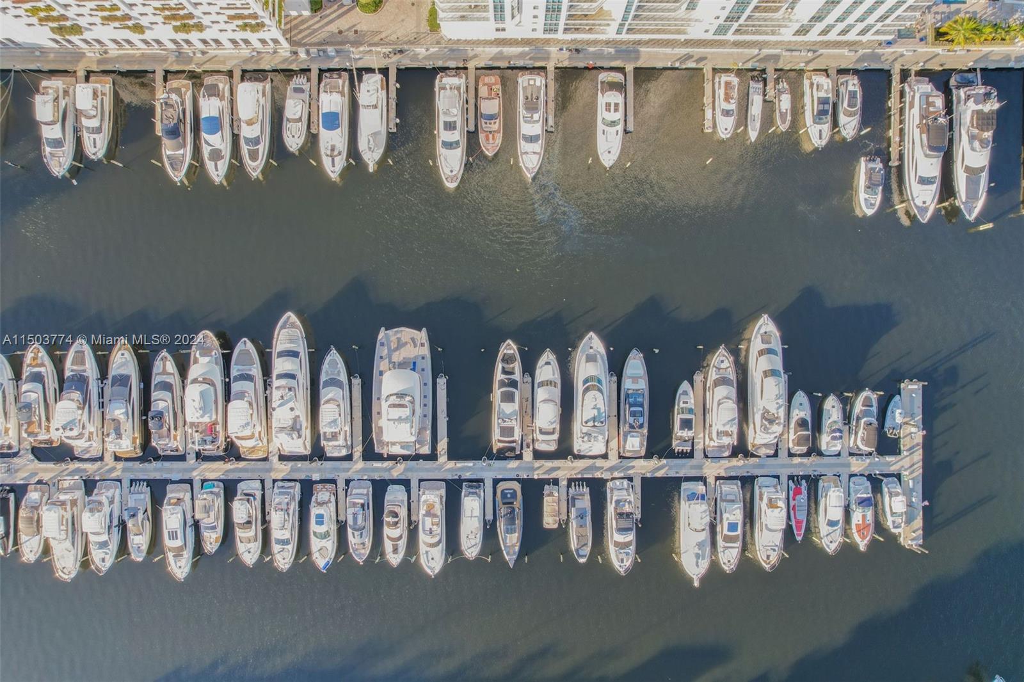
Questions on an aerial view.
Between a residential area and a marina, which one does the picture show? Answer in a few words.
marina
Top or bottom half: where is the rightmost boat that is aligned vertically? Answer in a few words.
top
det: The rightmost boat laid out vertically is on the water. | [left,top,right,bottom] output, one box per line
[946,67,999,223]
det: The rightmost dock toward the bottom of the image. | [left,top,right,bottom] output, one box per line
[899,382,923,544]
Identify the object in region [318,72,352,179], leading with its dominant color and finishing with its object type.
white boat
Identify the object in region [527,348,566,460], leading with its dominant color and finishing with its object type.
white boat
